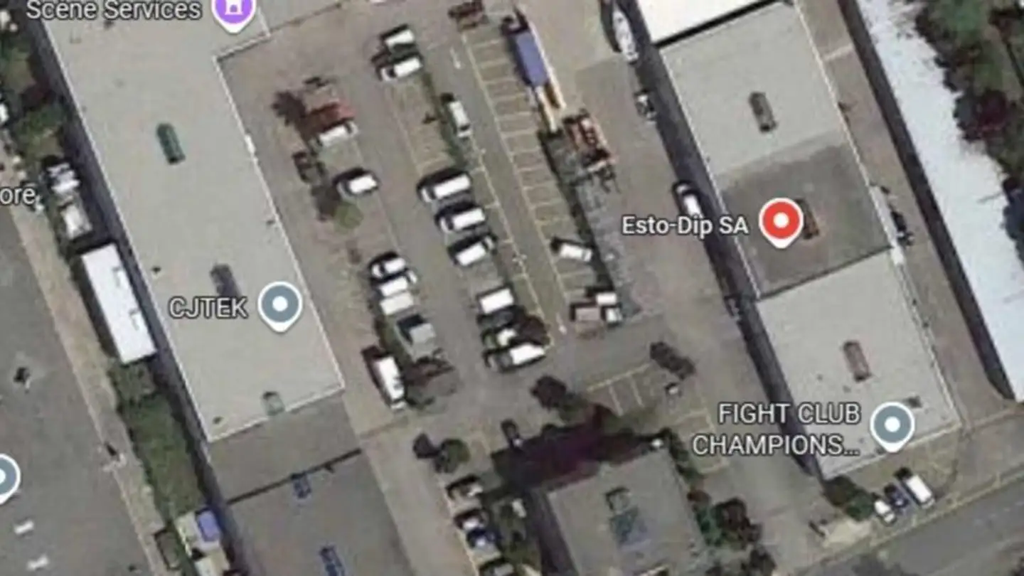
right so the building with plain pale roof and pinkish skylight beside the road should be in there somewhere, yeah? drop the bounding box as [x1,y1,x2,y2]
[756,245,970,479]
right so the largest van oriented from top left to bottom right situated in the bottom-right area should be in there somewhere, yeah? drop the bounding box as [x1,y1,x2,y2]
[895,464,936,512]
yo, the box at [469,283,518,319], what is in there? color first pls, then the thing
white van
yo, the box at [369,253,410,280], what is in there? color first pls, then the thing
white car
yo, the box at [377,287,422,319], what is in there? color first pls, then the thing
white camper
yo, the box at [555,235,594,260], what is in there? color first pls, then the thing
white car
